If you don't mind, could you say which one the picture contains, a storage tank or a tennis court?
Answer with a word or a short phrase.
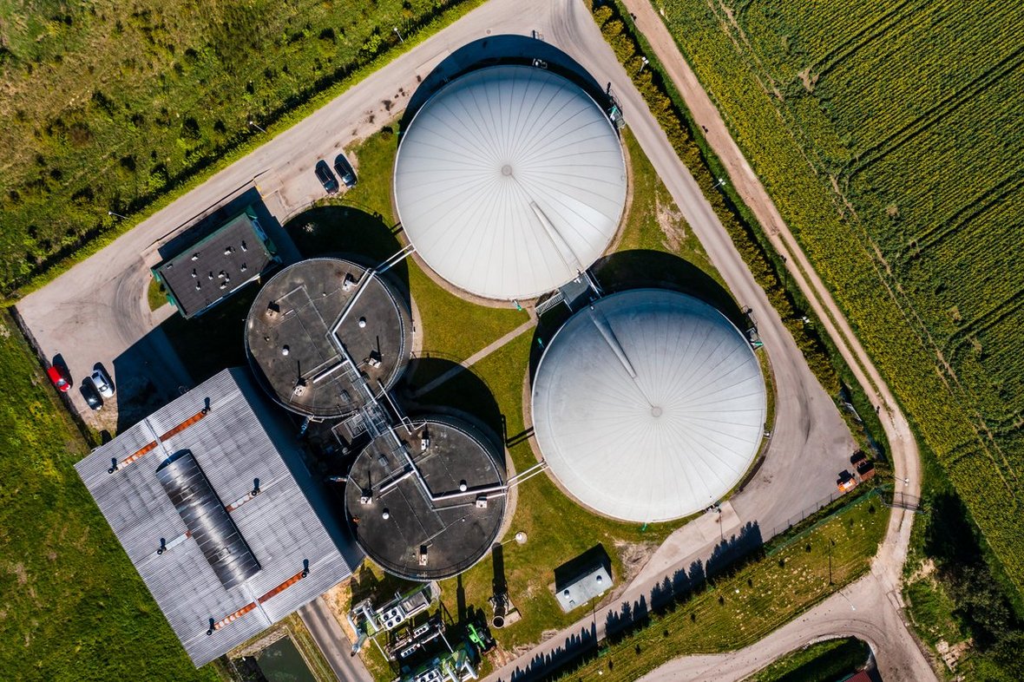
storage tank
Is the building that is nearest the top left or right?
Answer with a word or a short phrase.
left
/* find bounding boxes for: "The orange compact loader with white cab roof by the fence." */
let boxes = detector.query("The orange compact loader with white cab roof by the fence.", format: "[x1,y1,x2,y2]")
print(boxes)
[829,473,858,493]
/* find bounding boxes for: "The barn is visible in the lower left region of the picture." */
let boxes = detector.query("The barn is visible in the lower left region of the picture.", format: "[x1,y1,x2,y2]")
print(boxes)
[74,369,363,667]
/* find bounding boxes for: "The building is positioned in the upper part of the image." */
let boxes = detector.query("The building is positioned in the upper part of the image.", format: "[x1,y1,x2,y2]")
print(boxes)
[151,205,284,318]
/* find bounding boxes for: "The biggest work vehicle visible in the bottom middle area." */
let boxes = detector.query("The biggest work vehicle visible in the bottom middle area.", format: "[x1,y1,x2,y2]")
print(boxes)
[463,623,495,661]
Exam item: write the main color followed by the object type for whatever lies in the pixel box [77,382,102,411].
black car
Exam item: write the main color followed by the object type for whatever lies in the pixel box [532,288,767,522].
white storage tank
